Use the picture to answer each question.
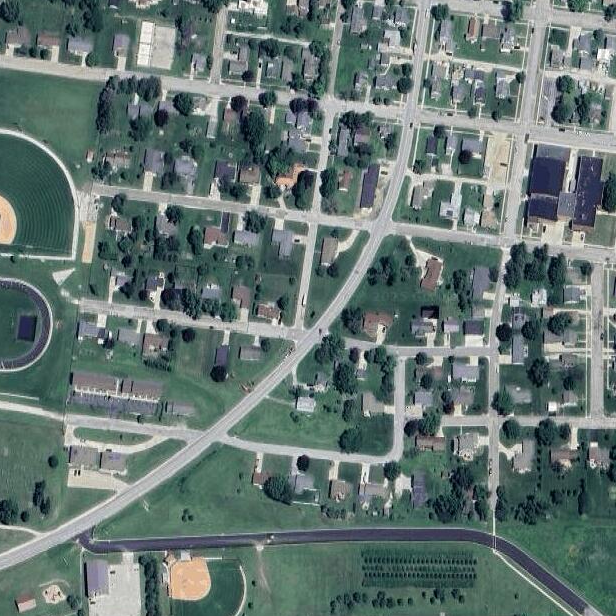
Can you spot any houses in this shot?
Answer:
Yes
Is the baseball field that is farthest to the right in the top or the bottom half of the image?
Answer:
bottom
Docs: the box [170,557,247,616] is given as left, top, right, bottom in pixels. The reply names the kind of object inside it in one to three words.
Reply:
baseball field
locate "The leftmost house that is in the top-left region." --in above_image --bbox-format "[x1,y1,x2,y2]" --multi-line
[6,28,32,46]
